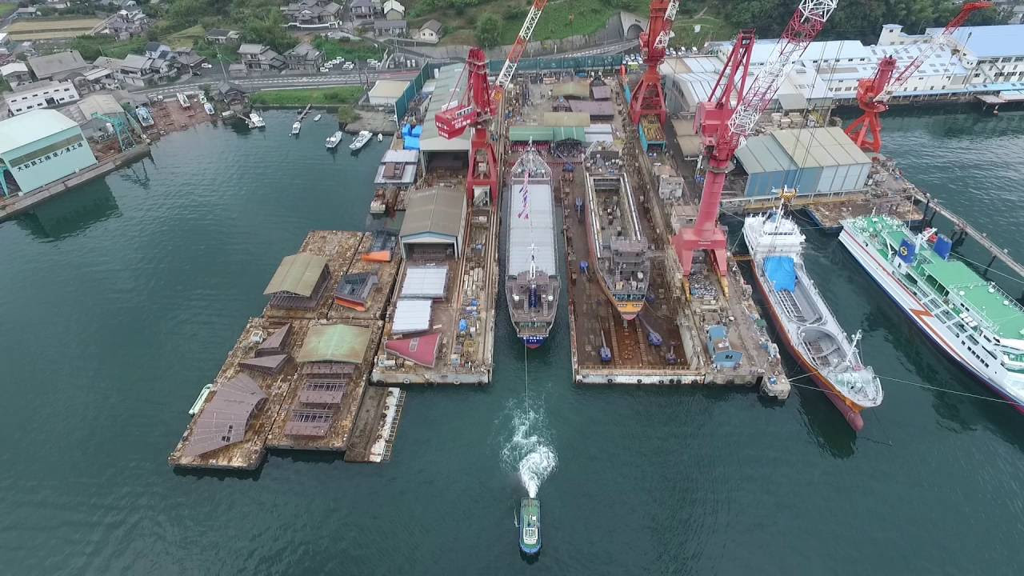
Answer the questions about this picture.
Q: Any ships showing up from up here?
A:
Yes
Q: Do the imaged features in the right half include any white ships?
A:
Yes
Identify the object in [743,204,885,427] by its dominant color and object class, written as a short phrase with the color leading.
white ship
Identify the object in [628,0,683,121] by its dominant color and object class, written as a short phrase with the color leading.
red crane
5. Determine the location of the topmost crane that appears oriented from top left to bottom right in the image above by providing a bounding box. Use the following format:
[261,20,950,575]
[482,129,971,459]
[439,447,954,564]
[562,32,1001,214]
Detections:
[78,88,140,148]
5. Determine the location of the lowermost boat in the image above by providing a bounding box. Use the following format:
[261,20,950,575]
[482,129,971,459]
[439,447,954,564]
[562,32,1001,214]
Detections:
[517,495,542,552]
